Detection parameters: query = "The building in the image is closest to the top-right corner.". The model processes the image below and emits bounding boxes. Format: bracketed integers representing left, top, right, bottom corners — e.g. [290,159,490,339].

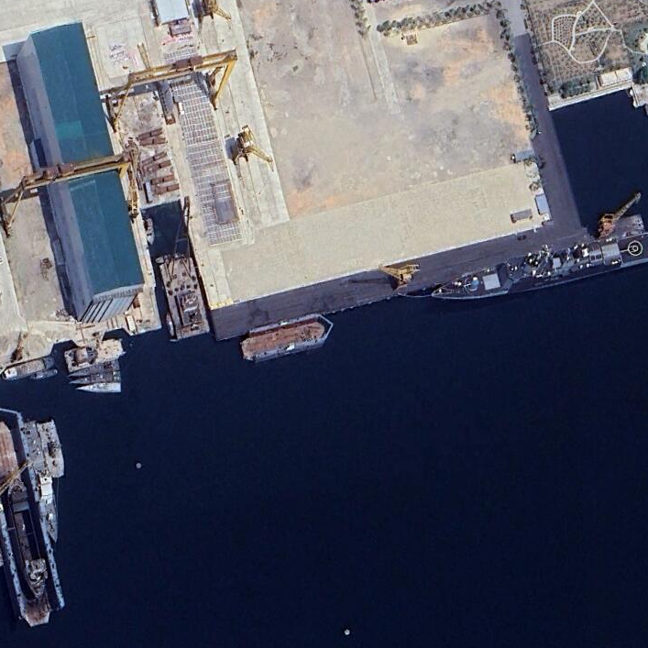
[598,67,633,87]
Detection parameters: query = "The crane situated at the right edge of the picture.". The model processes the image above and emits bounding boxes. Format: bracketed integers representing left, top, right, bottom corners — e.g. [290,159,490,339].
[591,193,641,246]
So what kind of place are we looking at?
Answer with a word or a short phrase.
port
